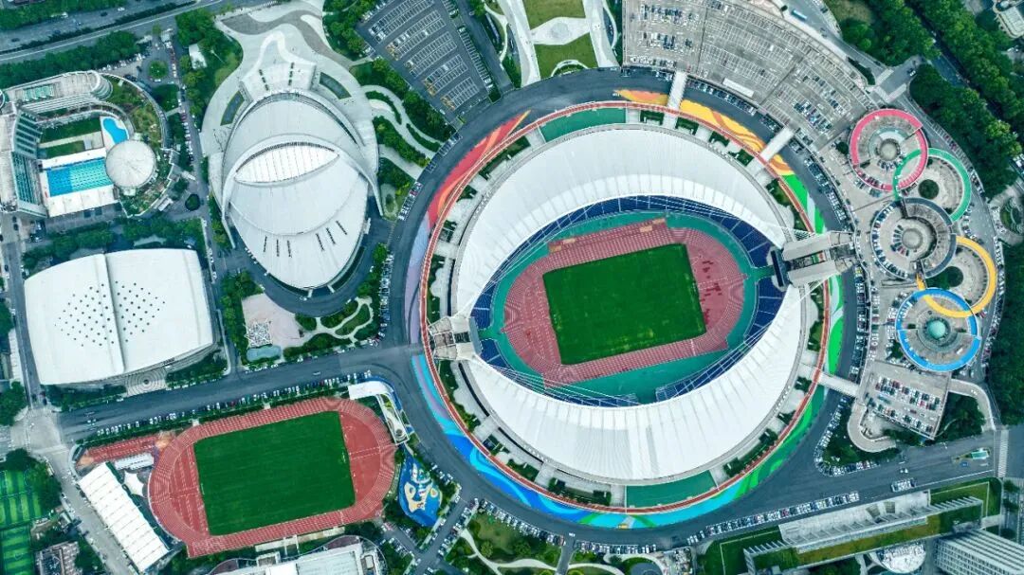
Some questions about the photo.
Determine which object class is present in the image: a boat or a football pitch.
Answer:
football pitch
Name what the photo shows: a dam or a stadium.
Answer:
stadium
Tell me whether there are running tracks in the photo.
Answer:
Yes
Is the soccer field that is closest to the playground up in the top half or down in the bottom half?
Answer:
bottom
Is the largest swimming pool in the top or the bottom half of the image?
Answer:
top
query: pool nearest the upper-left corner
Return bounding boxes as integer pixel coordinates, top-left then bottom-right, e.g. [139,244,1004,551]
[100,115,130,147]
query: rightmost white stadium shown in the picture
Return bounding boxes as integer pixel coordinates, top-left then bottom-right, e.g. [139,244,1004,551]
[422,106,853,511]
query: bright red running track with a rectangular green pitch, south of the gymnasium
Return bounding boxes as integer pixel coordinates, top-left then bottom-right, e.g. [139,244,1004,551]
[80,397,398,556]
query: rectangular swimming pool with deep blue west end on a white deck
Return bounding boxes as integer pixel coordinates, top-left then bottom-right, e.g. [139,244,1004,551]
[41,148,119,219]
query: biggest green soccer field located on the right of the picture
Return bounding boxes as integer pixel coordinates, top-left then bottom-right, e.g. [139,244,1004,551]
[544,244,707,364]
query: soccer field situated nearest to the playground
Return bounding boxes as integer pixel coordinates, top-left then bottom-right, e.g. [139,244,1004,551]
[194,411,355,536]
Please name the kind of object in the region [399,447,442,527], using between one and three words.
playground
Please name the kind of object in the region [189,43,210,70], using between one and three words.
building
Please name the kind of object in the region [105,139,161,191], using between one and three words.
building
